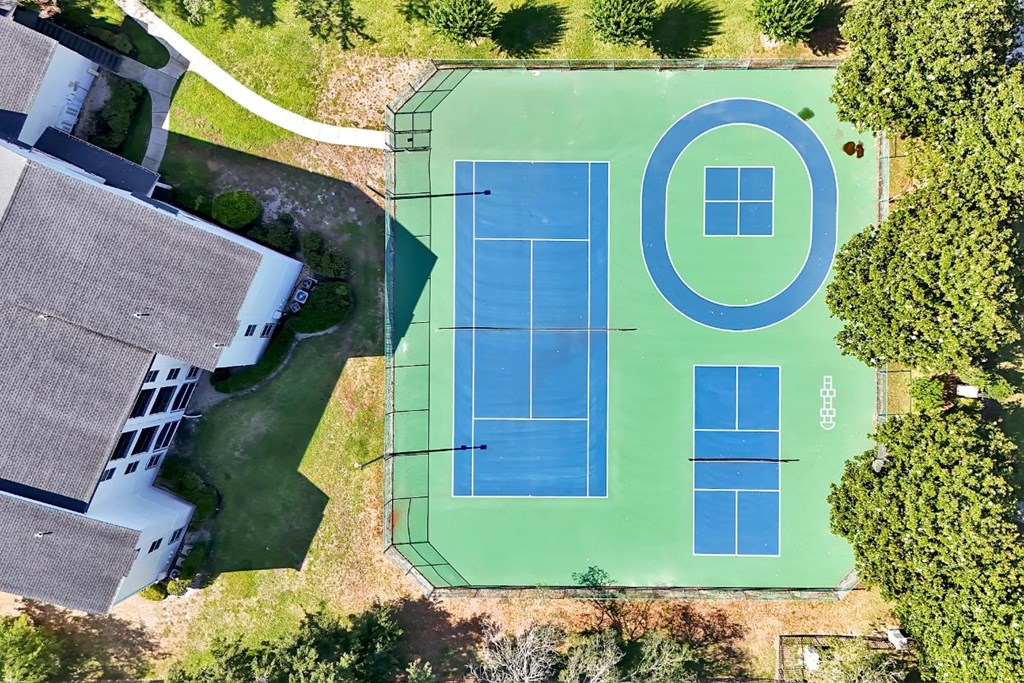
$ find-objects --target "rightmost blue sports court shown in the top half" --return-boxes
[704,167,775,236]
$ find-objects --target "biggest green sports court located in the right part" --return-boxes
[392,68,879,588]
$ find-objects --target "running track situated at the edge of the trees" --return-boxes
[641,98,838,331]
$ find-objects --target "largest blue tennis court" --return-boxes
[452,160,609,497]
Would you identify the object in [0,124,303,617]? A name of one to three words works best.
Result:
building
